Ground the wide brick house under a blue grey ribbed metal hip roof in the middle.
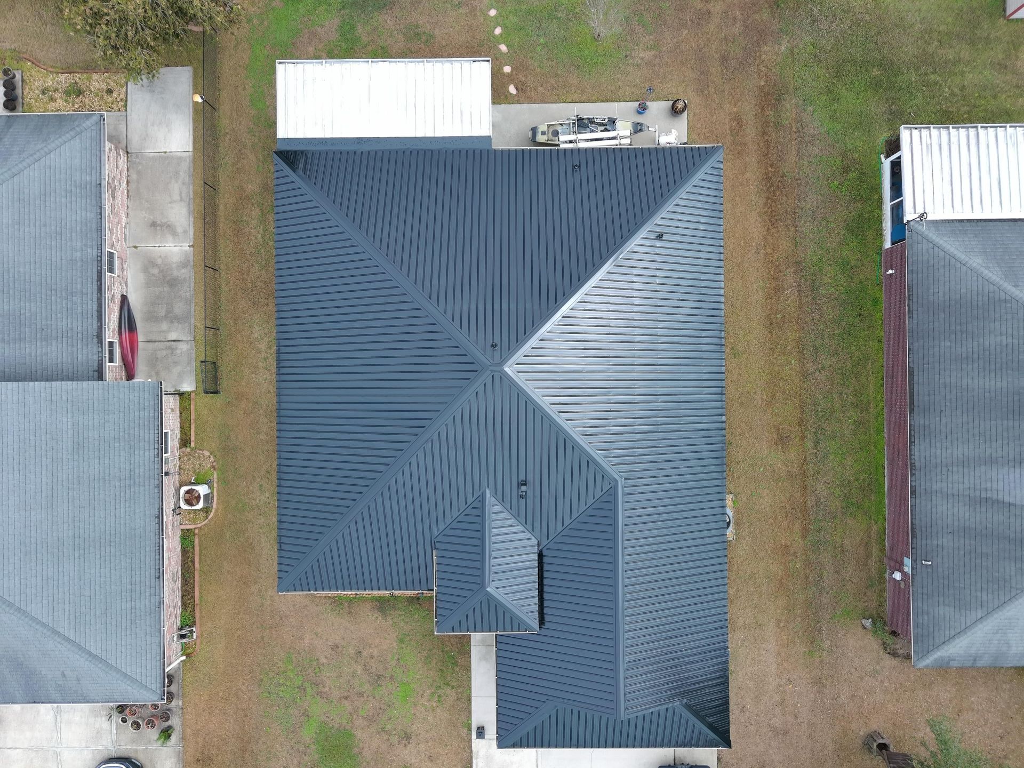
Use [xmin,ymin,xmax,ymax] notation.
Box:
[273,136,733,751]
